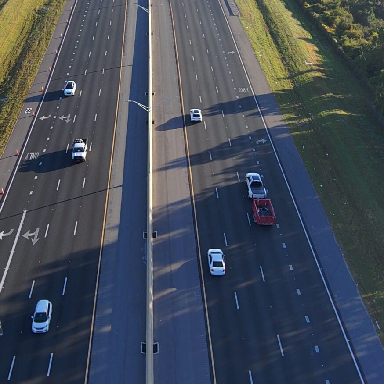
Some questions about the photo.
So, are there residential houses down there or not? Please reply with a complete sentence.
No, there isn't any residential house down there.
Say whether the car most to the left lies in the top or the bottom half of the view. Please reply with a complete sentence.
The bottom half of the photo is where the car most to the left is.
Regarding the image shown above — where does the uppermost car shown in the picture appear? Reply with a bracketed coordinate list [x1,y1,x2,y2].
[64,83,76,95]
